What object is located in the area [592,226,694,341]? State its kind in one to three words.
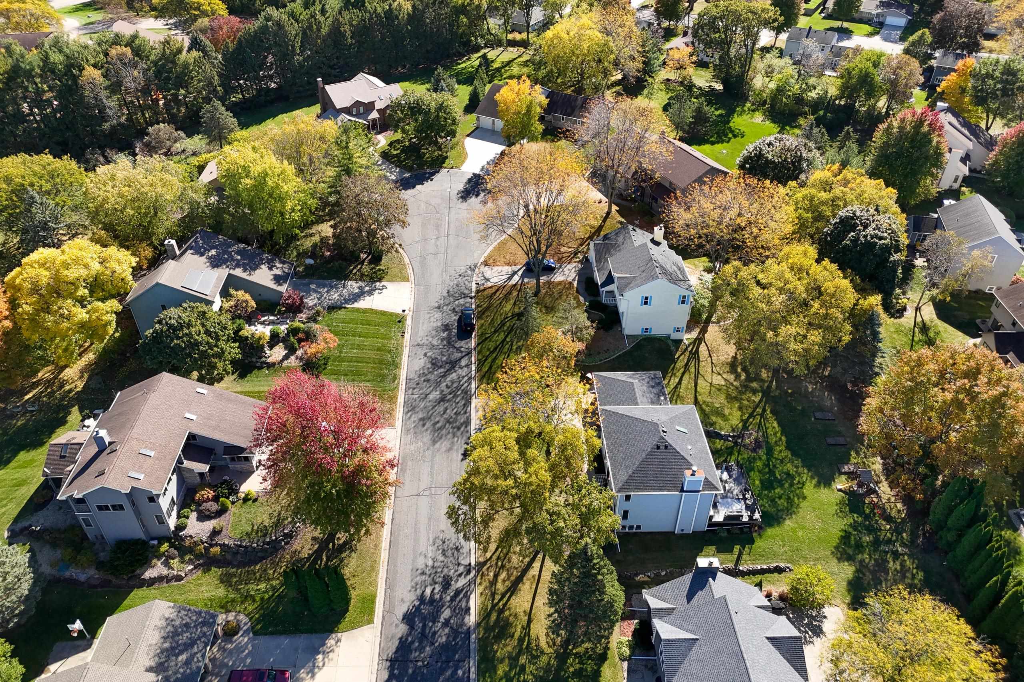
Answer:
house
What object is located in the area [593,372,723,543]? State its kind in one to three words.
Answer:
house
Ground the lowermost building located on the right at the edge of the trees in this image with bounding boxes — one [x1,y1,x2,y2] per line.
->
[631,548,810,682]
